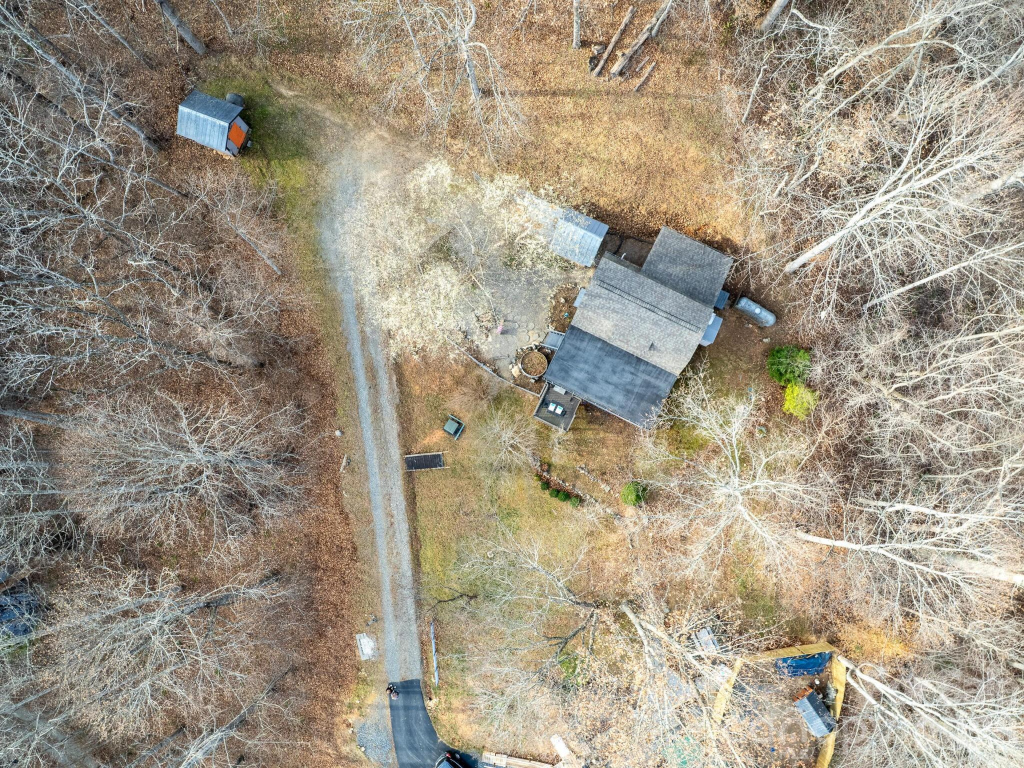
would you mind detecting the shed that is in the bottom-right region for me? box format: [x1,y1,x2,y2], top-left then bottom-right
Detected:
[784,678,837,737]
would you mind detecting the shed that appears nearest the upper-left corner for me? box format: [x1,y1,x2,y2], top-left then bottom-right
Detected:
[177,90,255,159]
